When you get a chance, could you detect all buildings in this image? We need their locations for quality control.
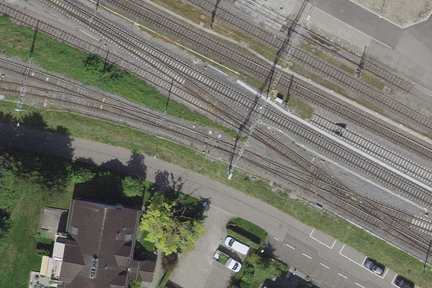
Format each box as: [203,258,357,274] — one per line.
[38,208,68,236]
[41,201,150,288]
